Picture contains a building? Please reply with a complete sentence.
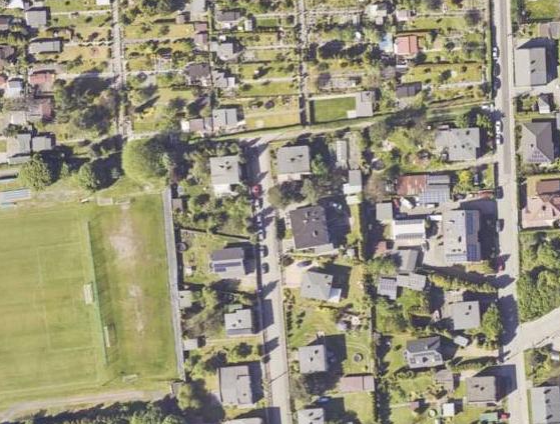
Yes, a building appears in the view.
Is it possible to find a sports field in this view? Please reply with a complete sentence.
Yes, a sports field is visible in the scene.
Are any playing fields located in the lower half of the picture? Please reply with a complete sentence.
Yes, the scene does show a playing field in the lower half of the picture.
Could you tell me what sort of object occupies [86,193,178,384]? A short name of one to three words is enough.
sports field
